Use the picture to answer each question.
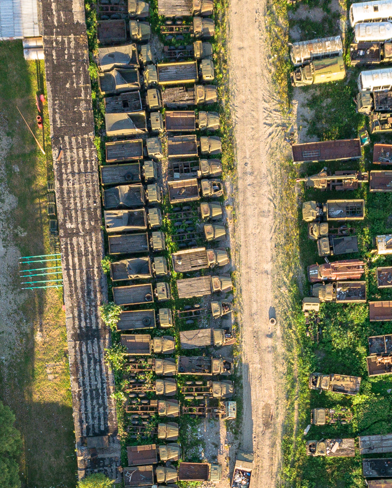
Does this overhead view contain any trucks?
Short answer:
Yes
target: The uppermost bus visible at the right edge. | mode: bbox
[348,1,392,27]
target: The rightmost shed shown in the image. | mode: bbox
[46,0,124,485]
